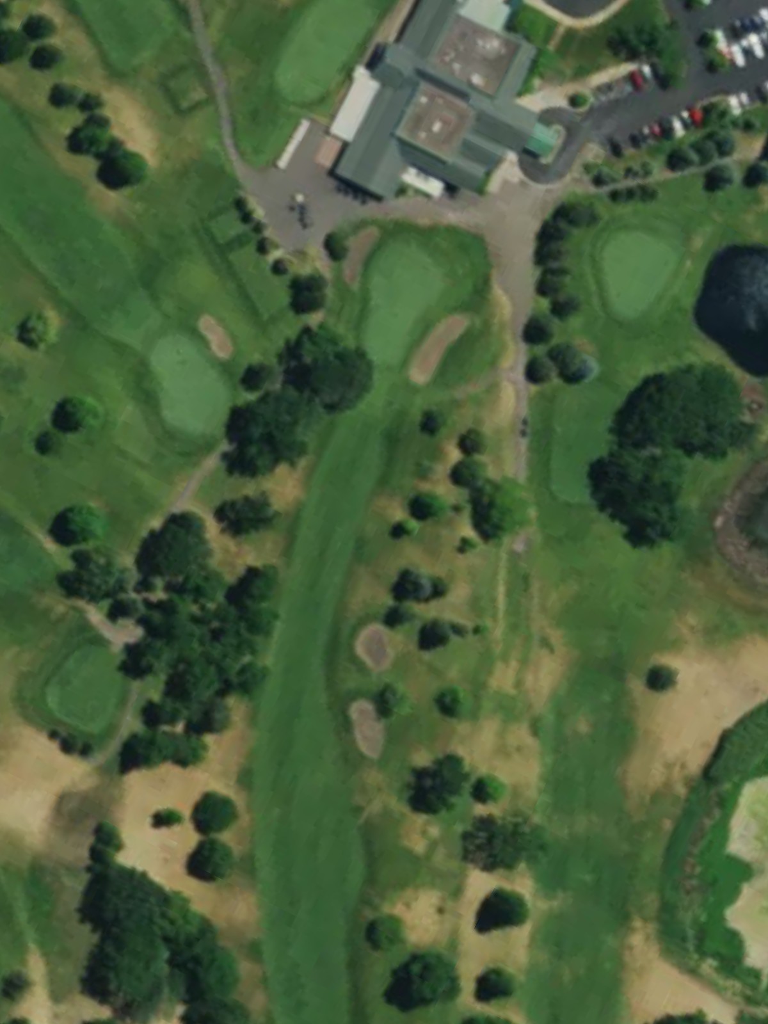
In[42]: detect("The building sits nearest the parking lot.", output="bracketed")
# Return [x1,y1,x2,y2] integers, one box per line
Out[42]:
[320,0,561,199]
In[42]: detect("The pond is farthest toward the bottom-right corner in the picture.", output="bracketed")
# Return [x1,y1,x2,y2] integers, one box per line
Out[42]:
[725,777,768,970]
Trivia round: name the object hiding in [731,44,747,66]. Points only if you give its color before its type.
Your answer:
white vehicle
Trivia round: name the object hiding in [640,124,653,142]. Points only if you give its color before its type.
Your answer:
gray vehicle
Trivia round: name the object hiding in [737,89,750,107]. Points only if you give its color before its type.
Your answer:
white vehicle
